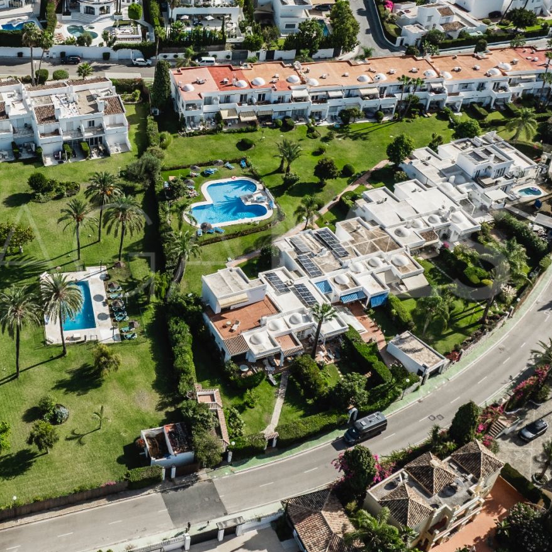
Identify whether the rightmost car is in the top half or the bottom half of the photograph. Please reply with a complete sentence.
You can find the rightmost car in the bottom half.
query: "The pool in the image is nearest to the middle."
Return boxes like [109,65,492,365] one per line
[188,177,271,228]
